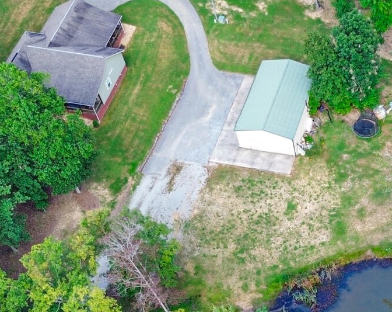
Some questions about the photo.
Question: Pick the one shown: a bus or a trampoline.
trampoline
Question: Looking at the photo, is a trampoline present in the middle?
No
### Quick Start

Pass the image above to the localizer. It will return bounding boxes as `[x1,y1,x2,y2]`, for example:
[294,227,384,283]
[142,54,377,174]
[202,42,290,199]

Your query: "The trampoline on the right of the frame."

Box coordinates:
[352,105,380,138]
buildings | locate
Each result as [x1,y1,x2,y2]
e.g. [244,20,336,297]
[233,57,321,154]
[2,0,141,122]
